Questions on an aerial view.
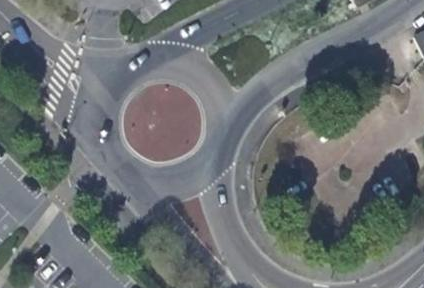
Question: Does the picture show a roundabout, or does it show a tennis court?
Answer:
roundabout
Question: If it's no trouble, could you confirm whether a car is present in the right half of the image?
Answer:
Yes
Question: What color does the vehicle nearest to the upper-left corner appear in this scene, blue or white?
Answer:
blue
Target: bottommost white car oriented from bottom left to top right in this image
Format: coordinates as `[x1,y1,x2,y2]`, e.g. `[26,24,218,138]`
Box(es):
[39,262,58,282]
